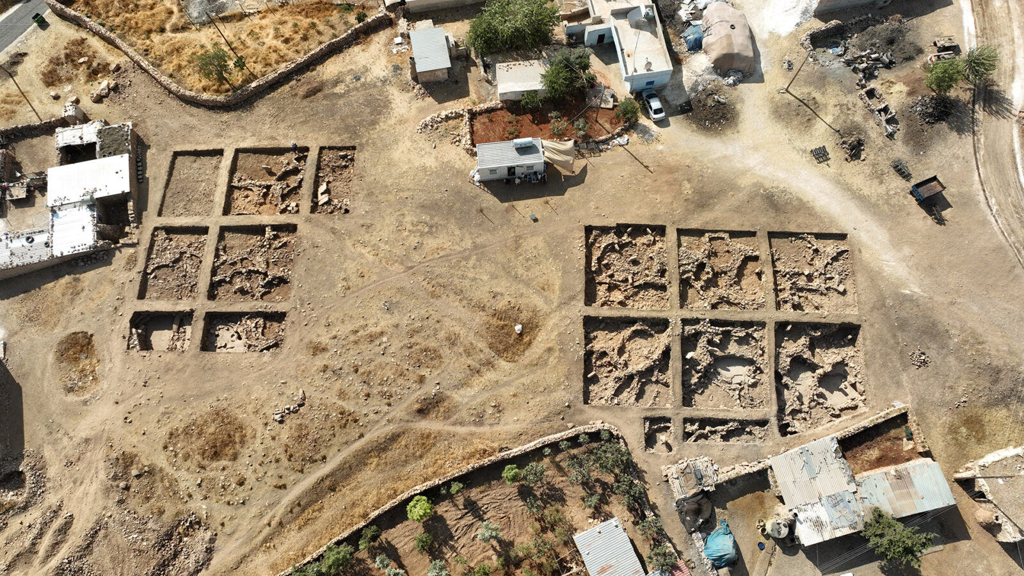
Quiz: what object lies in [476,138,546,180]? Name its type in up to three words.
building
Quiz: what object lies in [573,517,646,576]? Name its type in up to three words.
shed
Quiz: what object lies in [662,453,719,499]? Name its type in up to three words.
shed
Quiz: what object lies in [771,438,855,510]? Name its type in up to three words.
barn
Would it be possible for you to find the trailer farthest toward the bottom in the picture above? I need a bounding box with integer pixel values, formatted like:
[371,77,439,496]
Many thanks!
[907,175,946,221]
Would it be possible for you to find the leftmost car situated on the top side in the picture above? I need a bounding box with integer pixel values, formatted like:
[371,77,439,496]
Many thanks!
[640,86,668,120]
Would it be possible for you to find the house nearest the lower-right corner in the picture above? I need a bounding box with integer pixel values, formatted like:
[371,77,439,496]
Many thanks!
[963,439,1024,548]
